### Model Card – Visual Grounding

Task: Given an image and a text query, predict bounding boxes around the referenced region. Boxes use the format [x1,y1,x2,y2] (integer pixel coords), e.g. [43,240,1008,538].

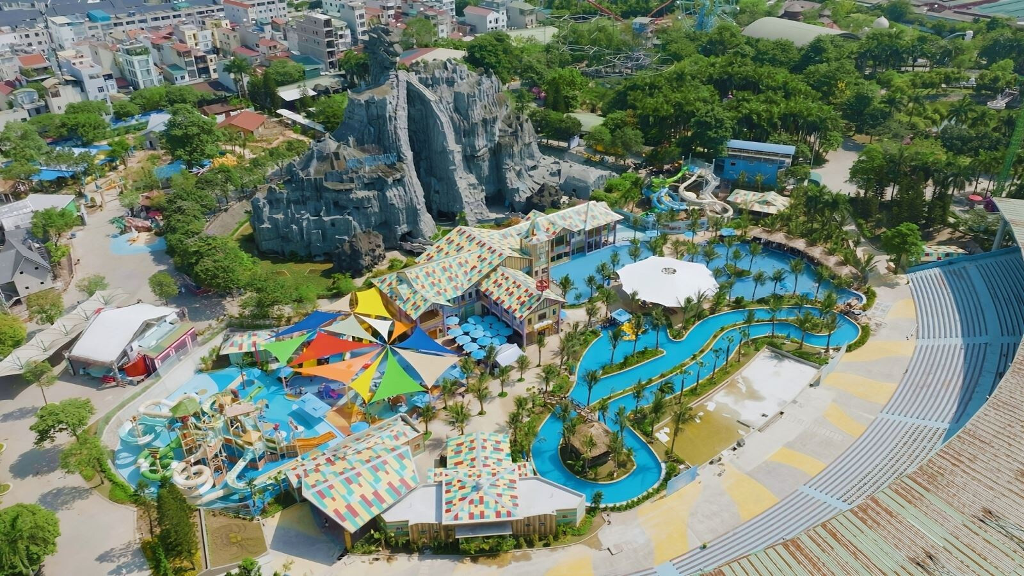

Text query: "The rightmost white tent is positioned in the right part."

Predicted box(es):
[616,256,719,321]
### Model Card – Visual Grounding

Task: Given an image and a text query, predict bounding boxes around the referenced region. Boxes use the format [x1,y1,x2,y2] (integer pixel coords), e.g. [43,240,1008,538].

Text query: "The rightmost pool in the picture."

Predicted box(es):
[684,240,863,305]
